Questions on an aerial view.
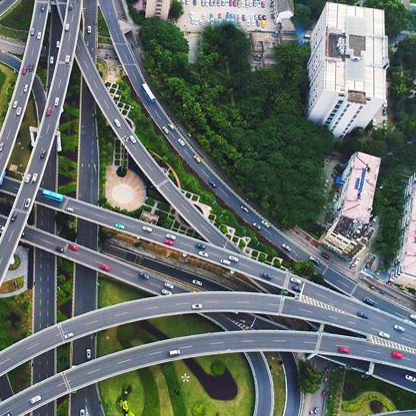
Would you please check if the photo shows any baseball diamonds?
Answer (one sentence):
No, there appears to be no baseball diamond in this shot.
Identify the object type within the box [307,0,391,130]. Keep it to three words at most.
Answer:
building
